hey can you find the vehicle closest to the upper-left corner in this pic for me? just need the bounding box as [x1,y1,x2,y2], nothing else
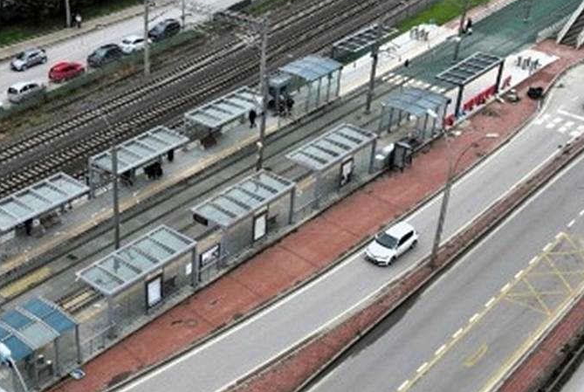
[5,42,50,68]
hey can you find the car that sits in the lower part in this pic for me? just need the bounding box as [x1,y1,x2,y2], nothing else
[363,217,420,261]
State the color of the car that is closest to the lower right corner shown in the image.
white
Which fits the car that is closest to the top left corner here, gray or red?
gray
